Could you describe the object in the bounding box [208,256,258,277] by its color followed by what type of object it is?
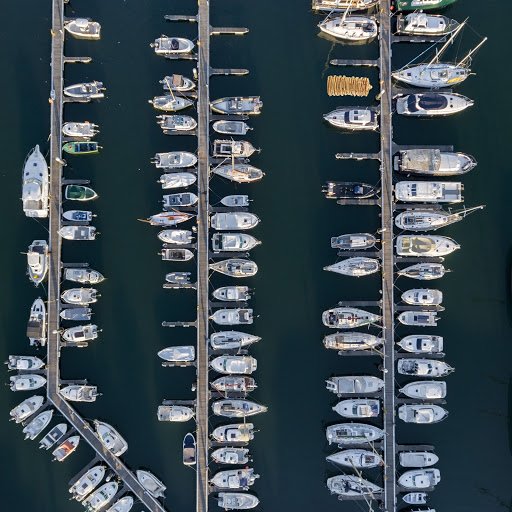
gray boat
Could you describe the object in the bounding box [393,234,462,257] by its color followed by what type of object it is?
white boat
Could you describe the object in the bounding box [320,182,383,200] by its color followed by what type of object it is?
black boat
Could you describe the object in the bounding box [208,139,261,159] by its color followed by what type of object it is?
white boat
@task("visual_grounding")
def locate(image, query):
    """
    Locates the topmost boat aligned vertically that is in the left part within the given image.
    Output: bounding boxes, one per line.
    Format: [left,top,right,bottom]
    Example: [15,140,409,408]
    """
[22,144,52,218]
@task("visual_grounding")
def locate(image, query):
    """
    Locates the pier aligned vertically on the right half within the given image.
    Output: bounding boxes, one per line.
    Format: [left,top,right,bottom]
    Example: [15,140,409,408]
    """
[329,0,454,512]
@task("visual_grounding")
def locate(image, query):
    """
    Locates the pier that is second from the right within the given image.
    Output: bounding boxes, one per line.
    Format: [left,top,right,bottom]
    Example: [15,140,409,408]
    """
[162,0,250,512]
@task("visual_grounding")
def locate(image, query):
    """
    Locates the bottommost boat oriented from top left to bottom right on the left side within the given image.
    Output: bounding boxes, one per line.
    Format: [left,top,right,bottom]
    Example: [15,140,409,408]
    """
[136,469,166,497]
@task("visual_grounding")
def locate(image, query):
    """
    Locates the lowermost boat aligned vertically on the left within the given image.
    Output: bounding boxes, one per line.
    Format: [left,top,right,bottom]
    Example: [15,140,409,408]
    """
[182,427,198,465]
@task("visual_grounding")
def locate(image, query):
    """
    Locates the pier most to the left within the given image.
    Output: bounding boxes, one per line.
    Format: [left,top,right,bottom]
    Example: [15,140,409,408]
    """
[18,0,168,512]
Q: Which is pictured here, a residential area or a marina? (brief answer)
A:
marina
